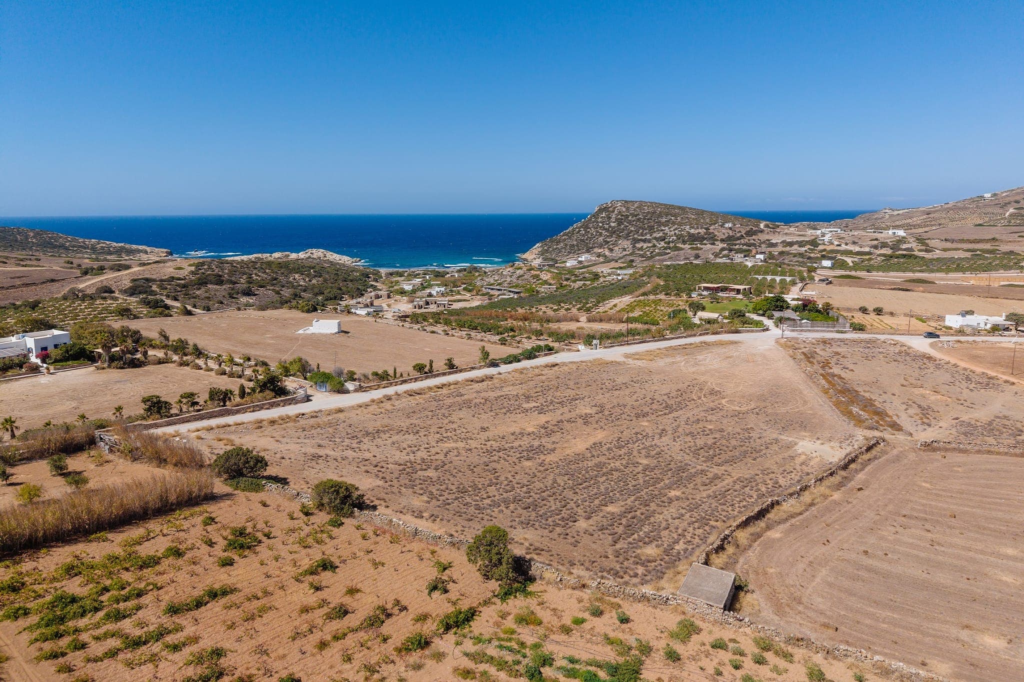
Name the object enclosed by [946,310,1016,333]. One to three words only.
house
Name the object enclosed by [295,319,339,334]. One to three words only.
building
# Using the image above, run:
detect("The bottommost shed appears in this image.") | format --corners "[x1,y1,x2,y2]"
[677,563,736,627]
